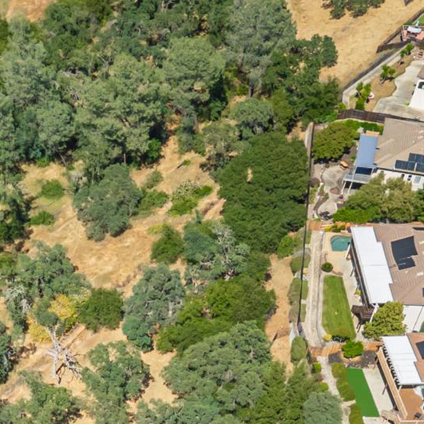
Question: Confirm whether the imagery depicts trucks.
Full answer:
No, there is no truck in the image.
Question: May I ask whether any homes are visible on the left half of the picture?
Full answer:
No, on the left half of the picture there is no home.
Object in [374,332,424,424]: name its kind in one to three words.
house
